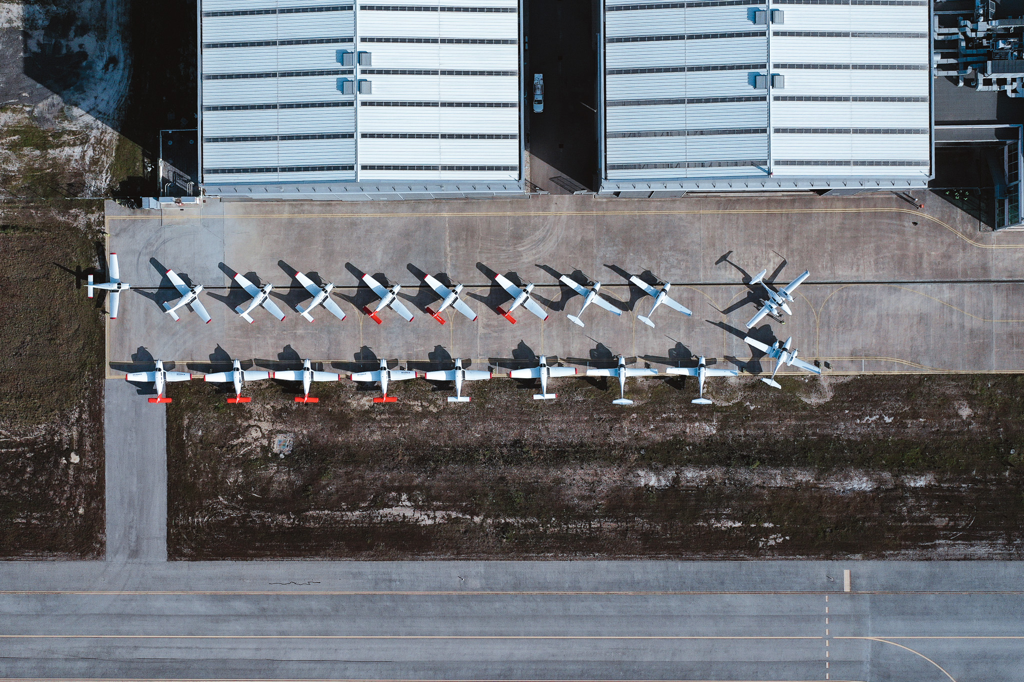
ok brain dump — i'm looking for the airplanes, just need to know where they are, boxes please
[630,275,692,328]
[351,357,417,402]
[746,337,821,389]
[511,354,576,399]
[560,275,622,327]
[204,358,270,403]
[587,356,659,404]
[667,355,739,403]
[294,273,345,323]
[495,275,547,324]
[233,274,284,323]
[126,358,191,403]
[747,268,809,326]
[424,275,476,325]
[426,357,491,402]
[361,275,413,325]
[85,253,133,318]
[162,270,210,324]
[274,357,339,403]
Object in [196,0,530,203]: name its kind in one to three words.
hangar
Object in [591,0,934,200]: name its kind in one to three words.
hangar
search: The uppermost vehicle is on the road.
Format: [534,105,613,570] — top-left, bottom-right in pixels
[532,72,545,112]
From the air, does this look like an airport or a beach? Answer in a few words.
airport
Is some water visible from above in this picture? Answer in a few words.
No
